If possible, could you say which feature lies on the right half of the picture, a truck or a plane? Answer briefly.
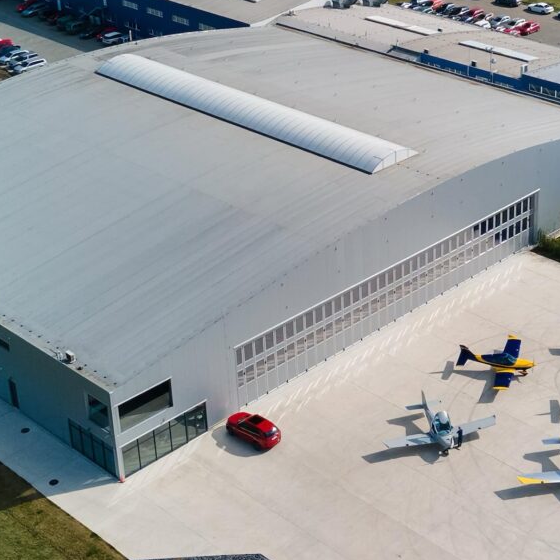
plane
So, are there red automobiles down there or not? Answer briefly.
Yes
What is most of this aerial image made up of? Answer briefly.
buildings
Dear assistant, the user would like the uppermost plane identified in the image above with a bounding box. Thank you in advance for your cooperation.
[457,335,537,389]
